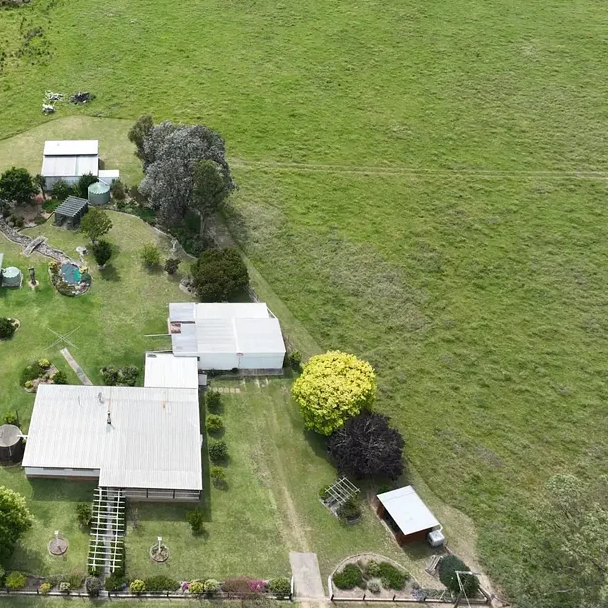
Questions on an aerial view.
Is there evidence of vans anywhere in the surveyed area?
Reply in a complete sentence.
No, no van is visible in the scene.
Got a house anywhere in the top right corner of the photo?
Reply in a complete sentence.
No, I see no house in the top right corner of the photo.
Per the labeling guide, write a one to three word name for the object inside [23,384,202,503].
house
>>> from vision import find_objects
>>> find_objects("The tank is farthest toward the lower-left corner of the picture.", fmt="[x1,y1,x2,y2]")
[0,422,29,465]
